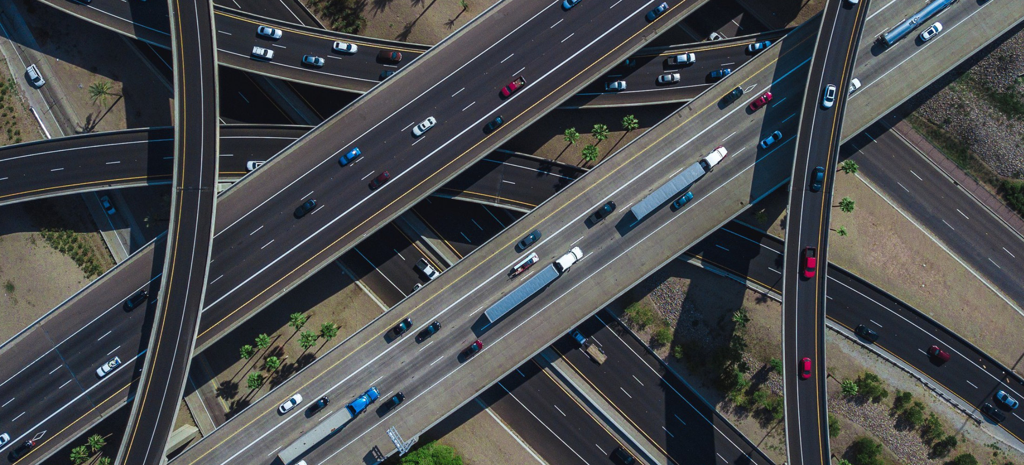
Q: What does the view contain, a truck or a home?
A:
truck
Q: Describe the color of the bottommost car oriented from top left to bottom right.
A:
black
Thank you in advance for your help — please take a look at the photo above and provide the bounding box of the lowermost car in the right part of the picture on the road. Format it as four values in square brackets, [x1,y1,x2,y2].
[611,445,634,465]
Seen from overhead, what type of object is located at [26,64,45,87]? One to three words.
car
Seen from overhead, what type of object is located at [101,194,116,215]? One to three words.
car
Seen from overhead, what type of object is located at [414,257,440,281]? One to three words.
truck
